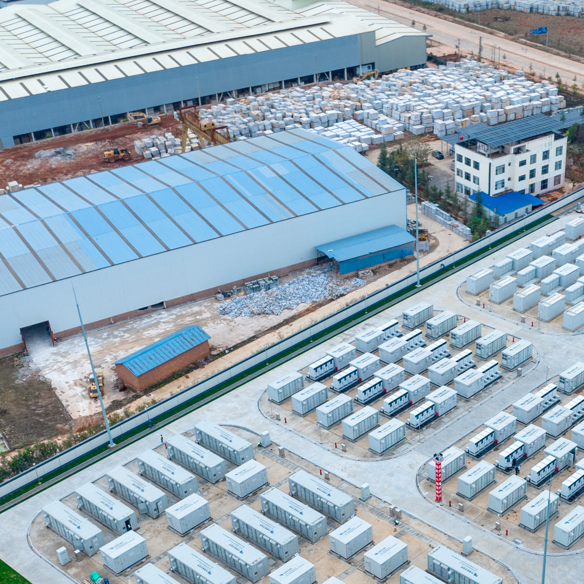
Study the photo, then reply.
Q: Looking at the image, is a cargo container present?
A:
Yes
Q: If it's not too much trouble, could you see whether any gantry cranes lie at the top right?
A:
No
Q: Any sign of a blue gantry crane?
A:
No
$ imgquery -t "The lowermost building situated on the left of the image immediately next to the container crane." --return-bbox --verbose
[0,127,409,358]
